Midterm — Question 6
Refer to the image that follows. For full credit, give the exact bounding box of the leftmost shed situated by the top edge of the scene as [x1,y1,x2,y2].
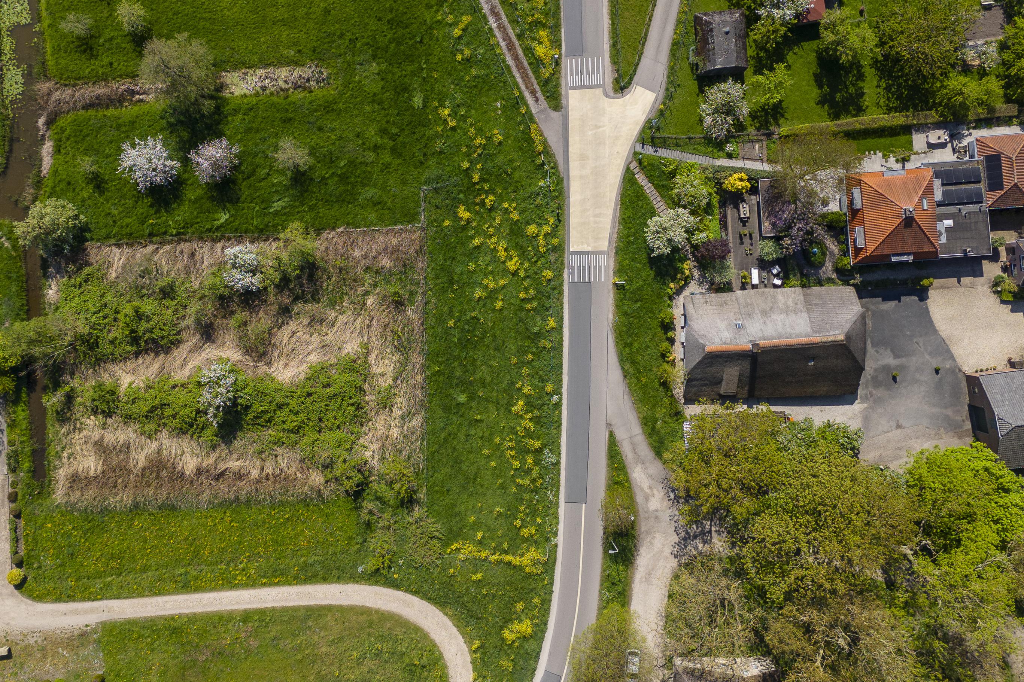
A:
[695,9,748,76]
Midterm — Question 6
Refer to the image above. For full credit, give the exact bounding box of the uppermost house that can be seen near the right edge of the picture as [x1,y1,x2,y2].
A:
[966,132,1024,209]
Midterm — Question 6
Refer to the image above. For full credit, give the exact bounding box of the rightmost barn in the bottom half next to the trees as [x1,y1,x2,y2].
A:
[966,372,1024,470]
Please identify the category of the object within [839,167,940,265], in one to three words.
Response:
house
